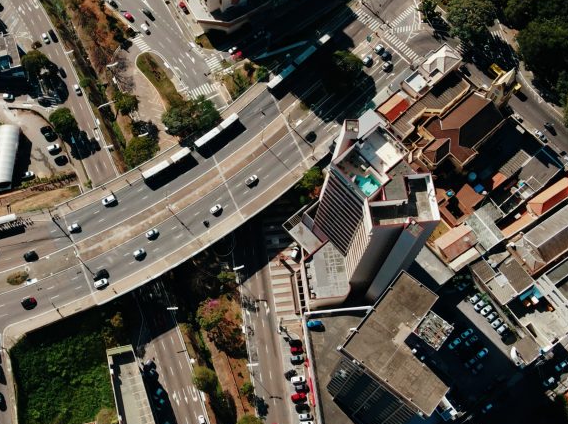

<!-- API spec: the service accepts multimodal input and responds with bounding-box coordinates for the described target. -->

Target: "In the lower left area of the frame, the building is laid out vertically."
[107,345,154,424]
